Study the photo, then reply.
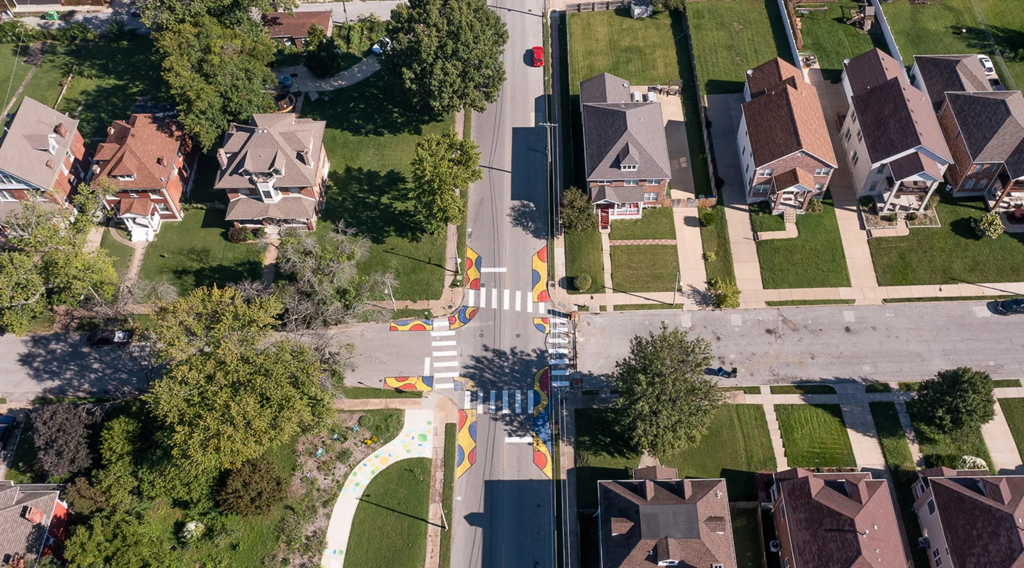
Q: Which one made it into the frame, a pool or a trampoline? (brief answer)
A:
trampoline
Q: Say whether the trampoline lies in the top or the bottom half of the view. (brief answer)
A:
top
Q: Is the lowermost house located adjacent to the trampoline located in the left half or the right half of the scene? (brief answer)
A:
left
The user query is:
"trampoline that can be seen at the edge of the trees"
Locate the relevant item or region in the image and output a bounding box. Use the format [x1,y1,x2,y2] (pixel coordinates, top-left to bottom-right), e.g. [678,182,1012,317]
[266,82,300,114]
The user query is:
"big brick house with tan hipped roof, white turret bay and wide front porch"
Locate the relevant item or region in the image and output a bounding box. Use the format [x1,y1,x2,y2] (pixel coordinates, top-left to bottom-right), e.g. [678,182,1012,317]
[211,114,335,244]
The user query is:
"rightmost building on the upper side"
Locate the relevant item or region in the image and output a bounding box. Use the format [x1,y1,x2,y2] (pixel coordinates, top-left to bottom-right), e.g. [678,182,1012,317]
[911,55,1024,222]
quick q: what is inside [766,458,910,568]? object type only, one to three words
house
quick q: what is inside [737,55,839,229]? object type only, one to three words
house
